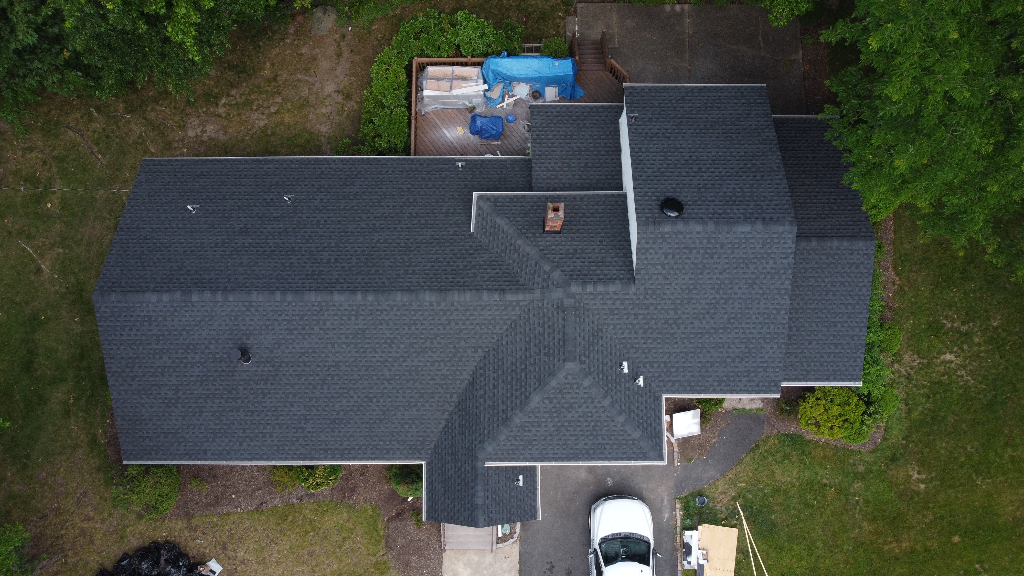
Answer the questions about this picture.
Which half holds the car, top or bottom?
bottom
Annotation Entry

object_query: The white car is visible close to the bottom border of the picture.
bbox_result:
[584,490,664,576]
